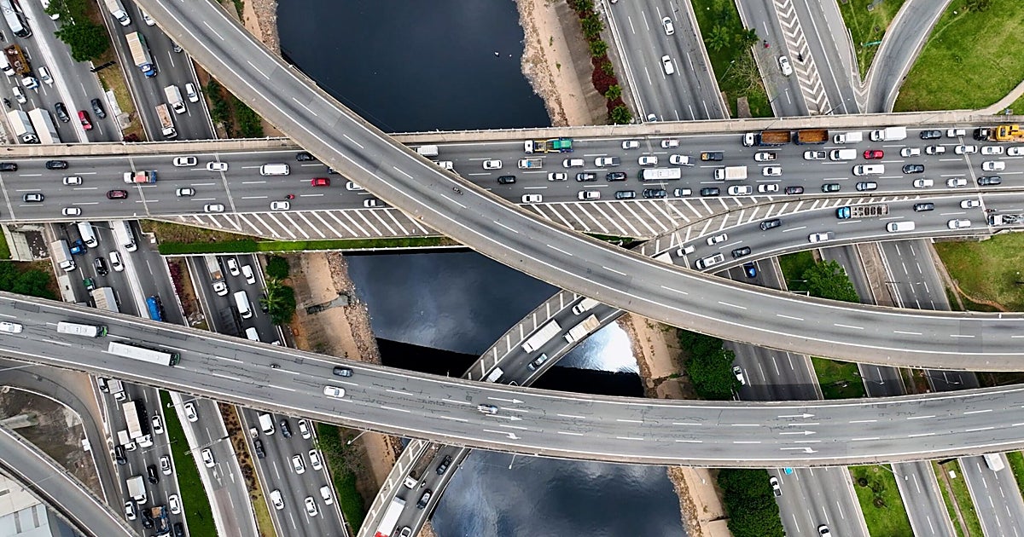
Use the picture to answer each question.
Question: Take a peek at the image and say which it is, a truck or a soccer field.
truck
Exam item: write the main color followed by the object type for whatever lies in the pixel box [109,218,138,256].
white bus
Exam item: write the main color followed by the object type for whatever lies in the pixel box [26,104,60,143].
white truck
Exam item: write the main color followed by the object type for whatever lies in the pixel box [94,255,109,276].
black car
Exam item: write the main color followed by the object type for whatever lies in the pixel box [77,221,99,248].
white vehicle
